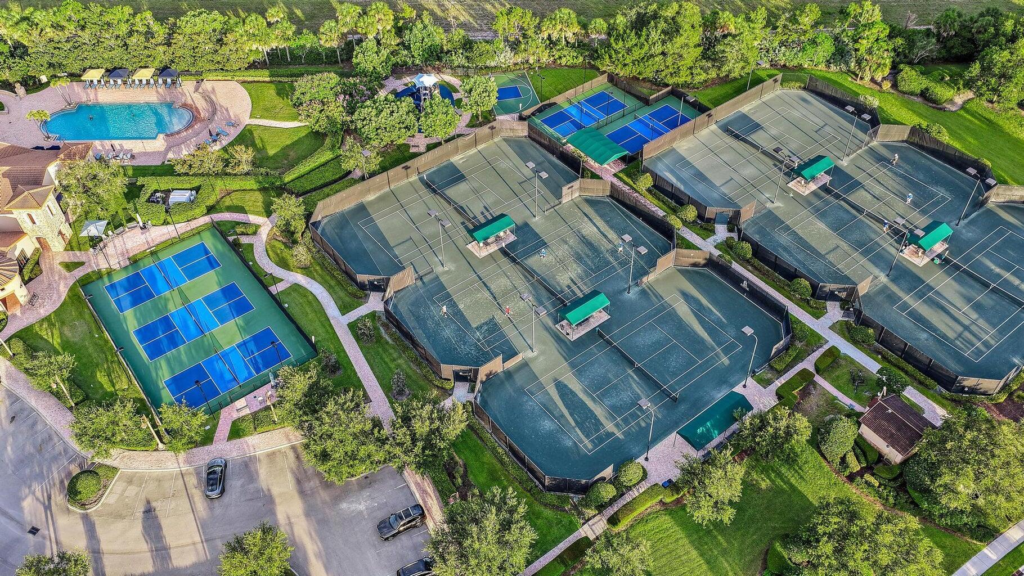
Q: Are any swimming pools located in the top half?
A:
Yes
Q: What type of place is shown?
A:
sports ground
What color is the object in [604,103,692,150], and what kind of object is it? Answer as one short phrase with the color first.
blue sports court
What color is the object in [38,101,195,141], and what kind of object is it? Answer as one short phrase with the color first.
blue swimming pool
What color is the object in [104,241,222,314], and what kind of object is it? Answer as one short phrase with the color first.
blue sports court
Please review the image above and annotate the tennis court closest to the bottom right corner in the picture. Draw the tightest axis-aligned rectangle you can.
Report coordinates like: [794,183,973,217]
[861,202,1024,382]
